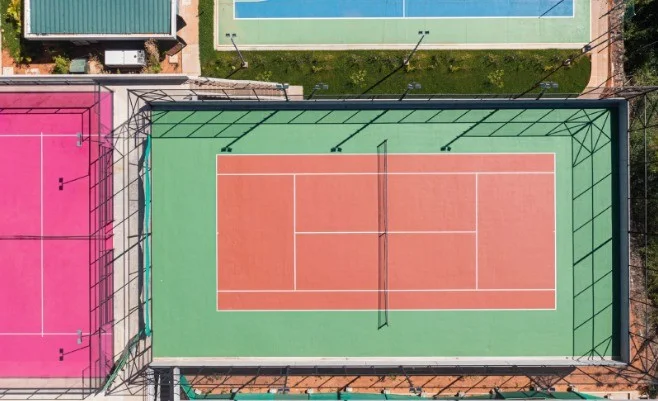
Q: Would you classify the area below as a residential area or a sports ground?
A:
sports ground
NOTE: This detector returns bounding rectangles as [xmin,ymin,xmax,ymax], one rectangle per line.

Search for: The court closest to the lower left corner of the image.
[0,92,113,378]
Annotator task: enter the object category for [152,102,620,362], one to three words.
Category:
tennis court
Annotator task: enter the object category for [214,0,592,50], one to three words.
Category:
sports court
